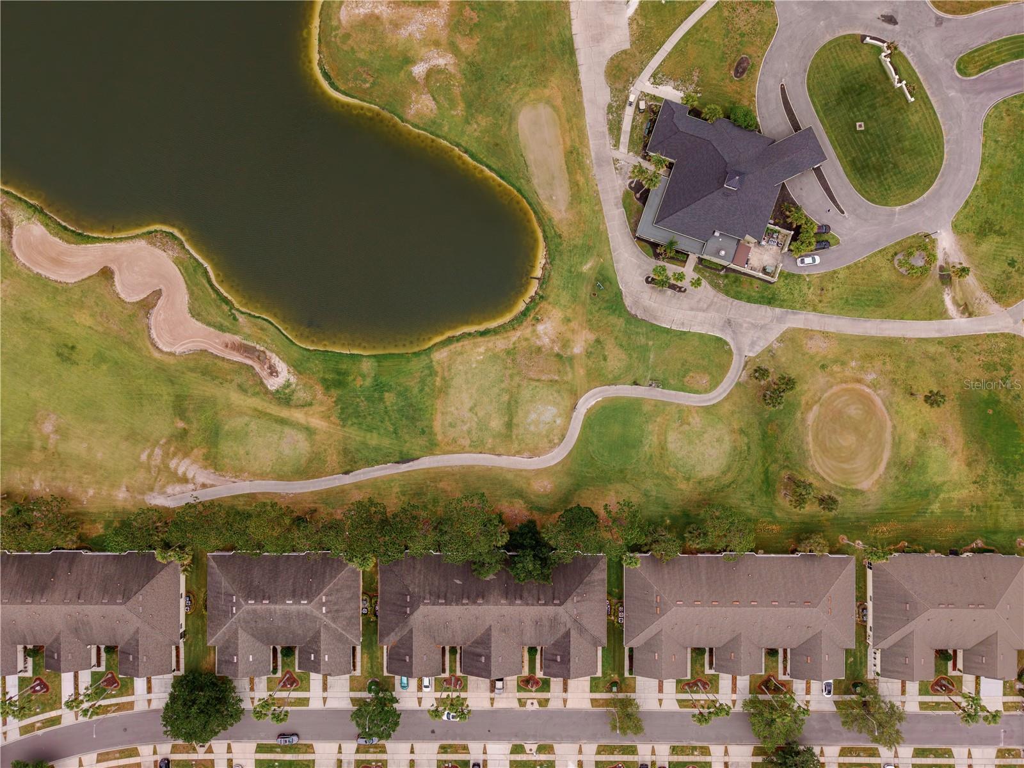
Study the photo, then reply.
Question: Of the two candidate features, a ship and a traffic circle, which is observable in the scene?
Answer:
traffic circle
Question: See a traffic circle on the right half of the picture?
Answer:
Yes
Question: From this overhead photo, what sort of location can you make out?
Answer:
residential area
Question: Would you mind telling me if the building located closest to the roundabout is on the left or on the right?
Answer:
right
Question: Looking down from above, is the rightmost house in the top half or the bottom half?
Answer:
bottom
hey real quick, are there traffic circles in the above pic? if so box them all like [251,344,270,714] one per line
[806,32,946,208]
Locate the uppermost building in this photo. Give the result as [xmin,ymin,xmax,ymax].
[635,99,829,268]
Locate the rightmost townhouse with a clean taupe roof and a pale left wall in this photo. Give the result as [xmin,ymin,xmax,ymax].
[867,552,1024,683]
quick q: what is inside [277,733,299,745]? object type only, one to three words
vehicle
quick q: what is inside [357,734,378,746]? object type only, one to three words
vehicle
